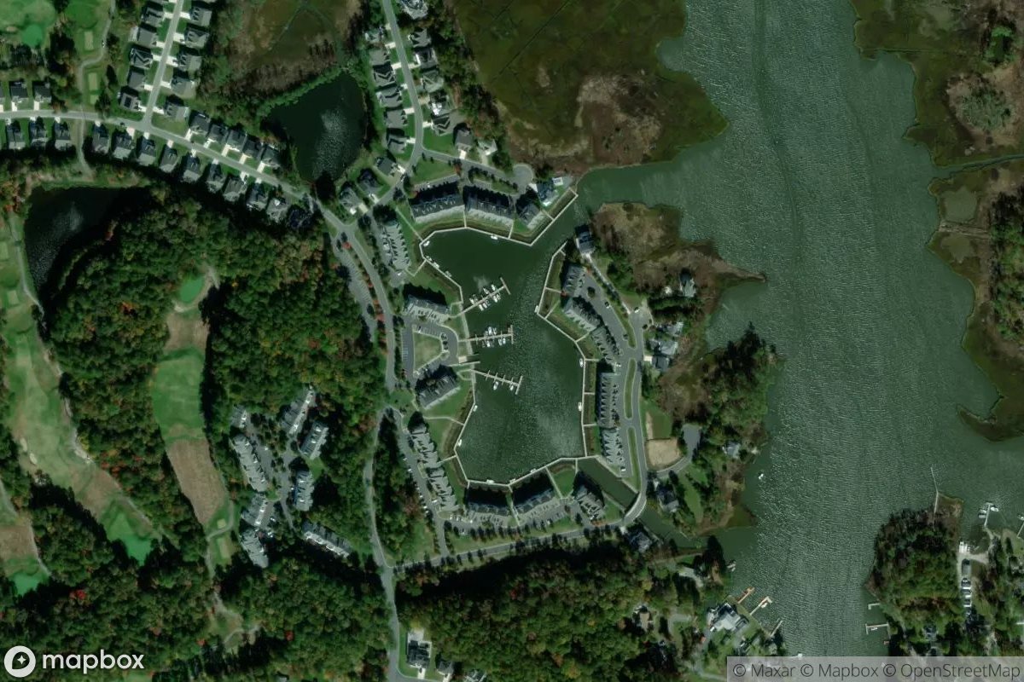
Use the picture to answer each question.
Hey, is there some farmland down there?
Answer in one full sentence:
No, there's no farmland in this view.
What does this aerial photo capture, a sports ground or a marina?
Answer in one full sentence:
This image shows a marina.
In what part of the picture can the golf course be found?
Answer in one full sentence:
The golf course is located in the left region of the scene.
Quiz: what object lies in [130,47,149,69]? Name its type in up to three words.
house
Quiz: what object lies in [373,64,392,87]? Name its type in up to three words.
house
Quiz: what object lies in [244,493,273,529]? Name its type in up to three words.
building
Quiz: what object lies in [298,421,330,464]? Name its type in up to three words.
building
